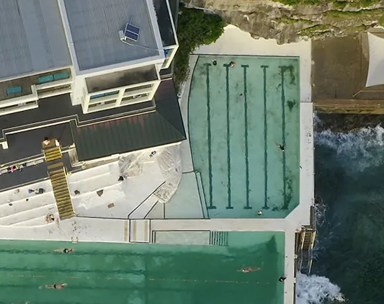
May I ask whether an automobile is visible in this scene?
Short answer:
No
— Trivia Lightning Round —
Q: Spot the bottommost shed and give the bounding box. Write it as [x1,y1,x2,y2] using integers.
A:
[71,79,186,169]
